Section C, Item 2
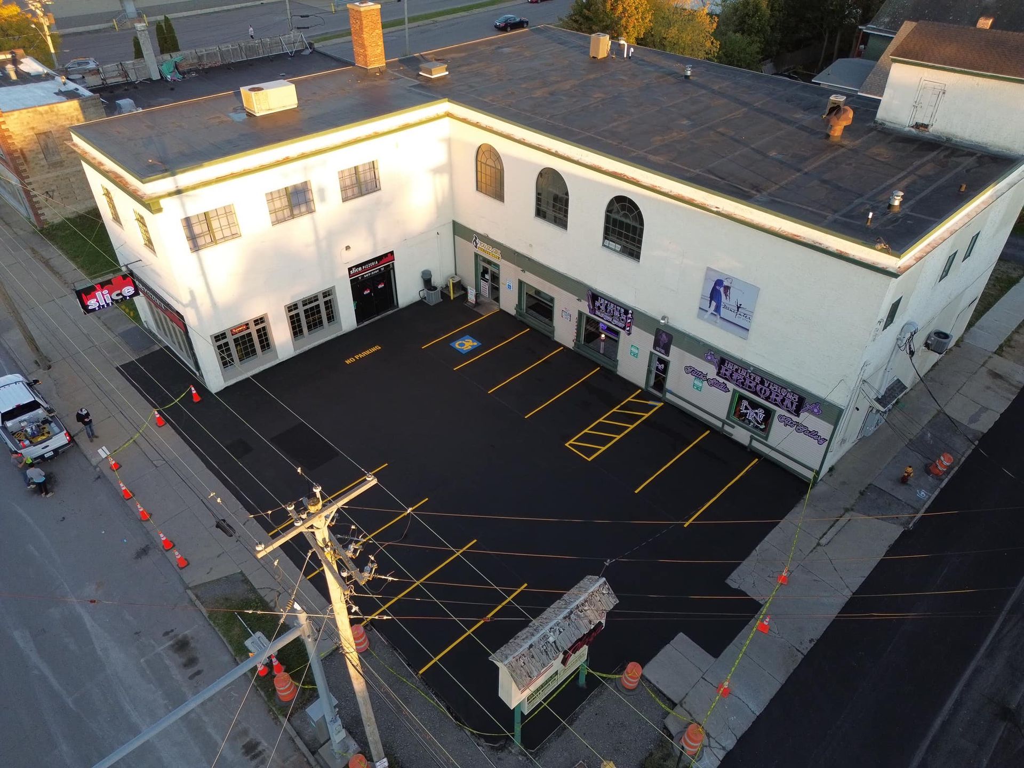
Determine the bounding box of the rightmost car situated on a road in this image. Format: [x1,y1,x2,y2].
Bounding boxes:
[498,11,522,26]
